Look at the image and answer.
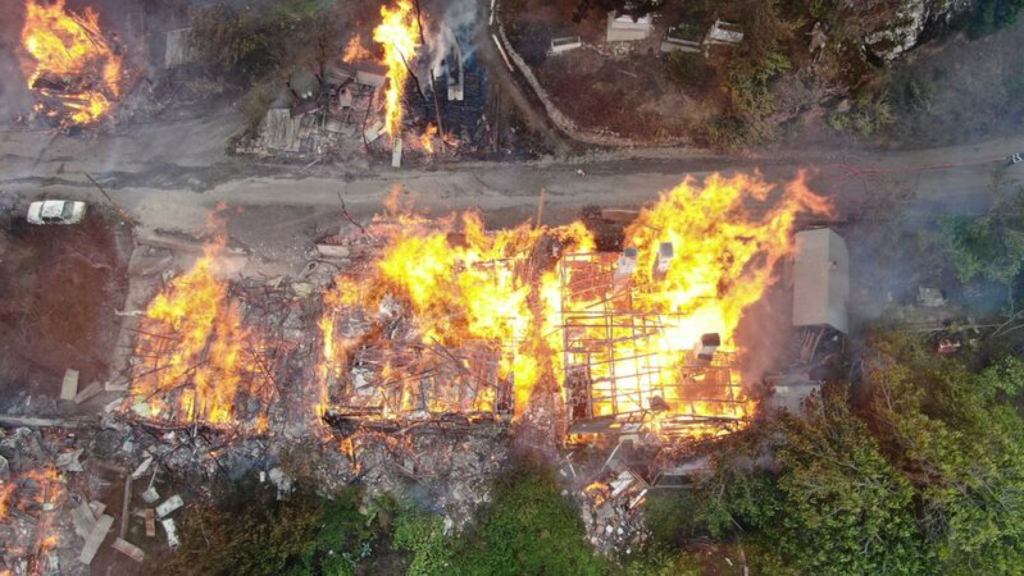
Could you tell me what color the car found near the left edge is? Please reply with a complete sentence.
In this view, the car found near the left edge is white.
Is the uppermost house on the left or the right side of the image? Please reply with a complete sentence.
The uppermost house is on the left side of the image.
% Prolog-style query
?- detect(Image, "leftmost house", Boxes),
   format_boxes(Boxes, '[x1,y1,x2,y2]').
[19,10,120,115]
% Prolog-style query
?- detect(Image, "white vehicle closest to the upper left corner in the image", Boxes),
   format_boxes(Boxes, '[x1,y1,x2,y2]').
[21,198,88,227]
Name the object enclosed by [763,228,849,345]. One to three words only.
shed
